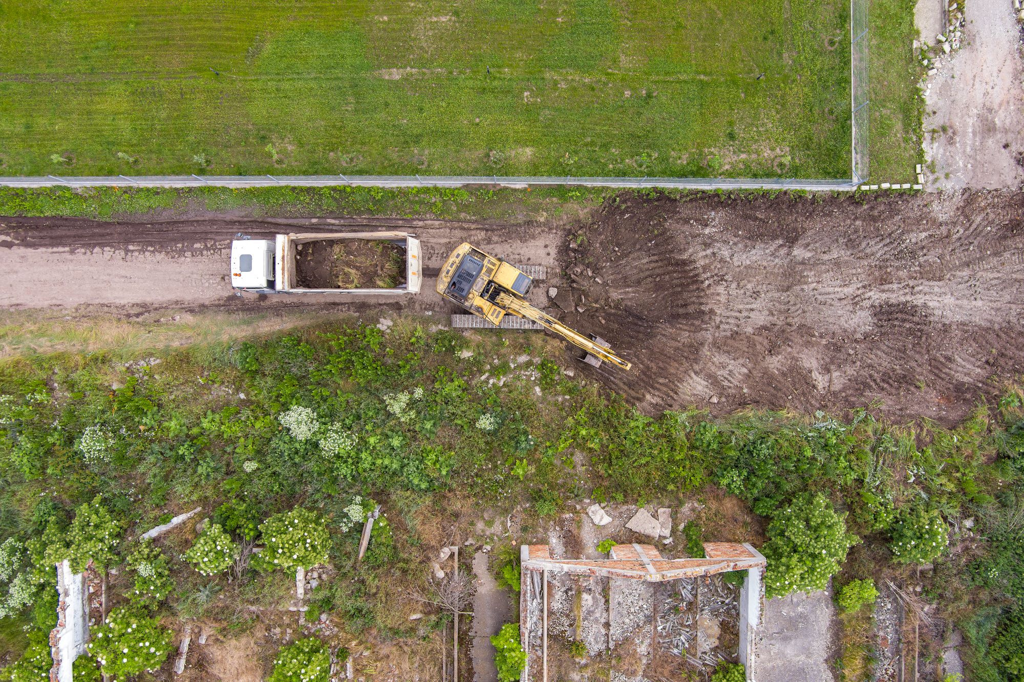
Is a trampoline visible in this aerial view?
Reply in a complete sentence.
No, the photo shows no trampoline.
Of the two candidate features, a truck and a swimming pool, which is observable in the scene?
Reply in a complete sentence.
Visible in the photo is a truck.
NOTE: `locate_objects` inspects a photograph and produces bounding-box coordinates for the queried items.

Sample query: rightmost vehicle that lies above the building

[436,243,633,370]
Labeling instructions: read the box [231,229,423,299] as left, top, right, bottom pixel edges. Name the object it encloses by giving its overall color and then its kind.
white truck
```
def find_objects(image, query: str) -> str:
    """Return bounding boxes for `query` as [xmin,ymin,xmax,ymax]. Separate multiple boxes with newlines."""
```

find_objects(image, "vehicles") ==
[436,243,633,370]
[231,229,423,299]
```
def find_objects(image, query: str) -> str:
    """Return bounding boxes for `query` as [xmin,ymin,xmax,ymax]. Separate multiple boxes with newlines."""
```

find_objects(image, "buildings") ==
[520,543,768,682]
